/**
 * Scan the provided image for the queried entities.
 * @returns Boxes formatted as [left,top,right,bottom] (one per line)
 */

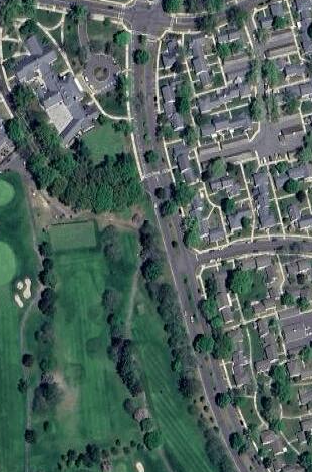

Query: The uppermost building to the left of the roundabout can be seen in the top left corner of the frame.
[18,53,62,102]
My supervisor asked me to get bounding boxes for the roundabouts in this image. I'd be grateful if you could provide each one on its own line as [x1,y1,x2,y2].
[83,56,120,94]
